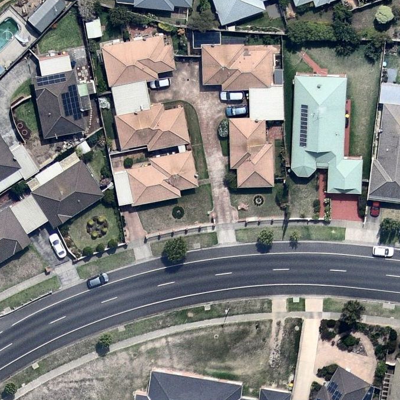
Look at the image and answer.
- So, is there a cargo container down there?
No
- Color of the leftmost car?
white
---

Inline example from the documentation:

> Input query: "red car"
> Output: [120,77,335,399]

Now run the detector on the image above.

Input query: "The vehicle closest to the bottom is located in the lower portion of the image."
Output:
[85,273,109,288]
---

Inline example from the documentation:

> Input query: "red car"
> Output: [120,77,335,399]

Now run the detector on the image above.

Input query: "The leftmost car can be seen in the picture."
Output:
[48,232,67,257]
